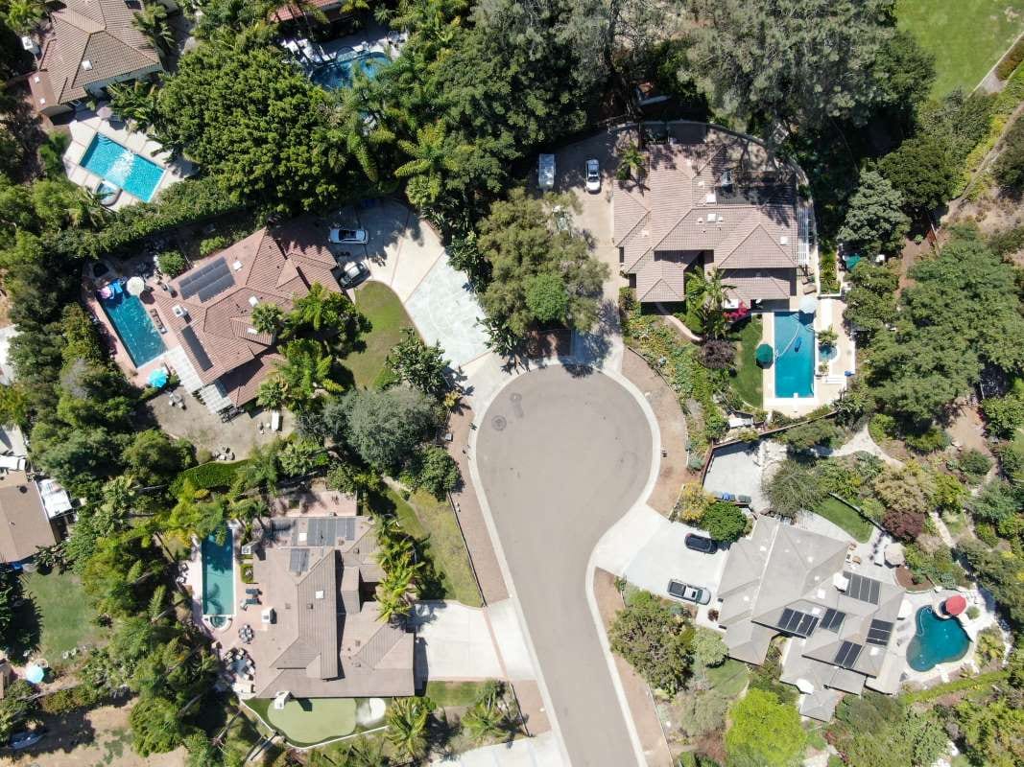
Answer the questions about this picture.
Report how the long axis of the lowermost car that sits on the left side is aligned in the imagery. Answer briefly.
at an angle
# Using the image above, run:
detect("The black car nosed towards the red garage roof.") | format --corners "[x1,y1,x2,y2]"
[338,260,371,288]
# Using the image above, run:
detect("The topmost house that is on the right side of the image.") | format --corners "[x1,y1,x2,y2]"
[613,144,812,309]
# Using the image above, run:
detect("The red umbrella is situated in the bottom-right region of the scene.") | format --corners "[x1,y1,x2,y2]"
[943,595,964,616]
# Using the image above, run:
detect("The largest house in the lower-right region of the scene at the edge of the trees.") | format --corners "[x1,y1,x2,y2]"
[716,516,905,720]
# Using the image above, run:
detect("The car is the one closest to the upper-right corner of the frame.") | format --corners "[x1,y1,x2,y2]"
[585,158,601,193]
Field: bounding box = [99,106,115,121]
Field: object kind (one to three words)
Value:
umbrella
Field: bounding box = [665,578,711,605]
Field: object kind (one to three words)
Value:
truck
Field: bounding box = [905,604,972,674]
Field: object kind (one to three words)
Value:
swimming pool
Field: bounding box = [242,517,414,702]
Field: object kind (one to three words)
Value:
house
